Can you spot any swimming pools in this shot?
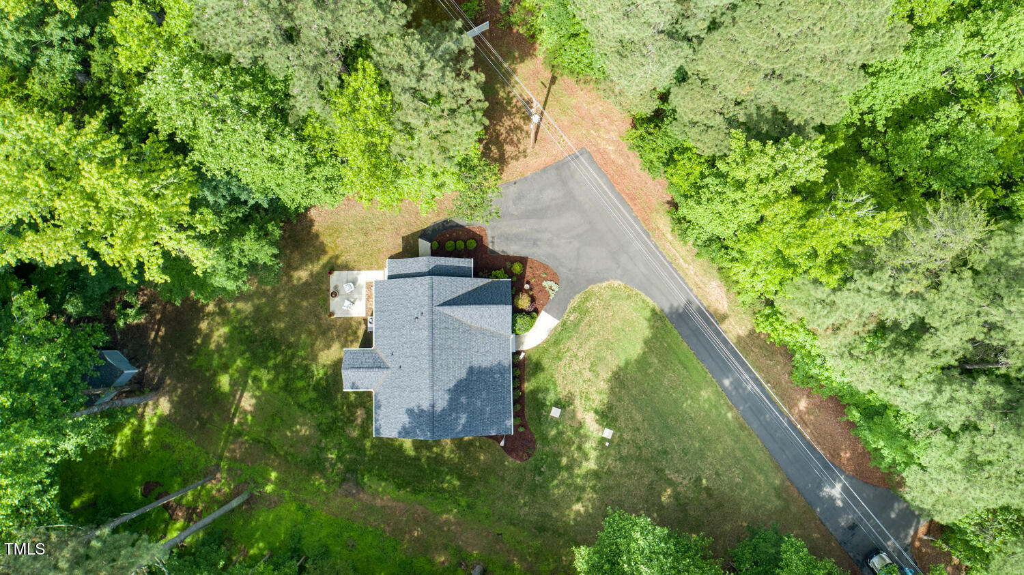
No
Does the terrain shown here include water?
No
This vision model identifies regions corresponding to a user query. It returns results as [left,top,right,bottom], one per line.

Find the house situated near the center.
[340,256,517,439]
